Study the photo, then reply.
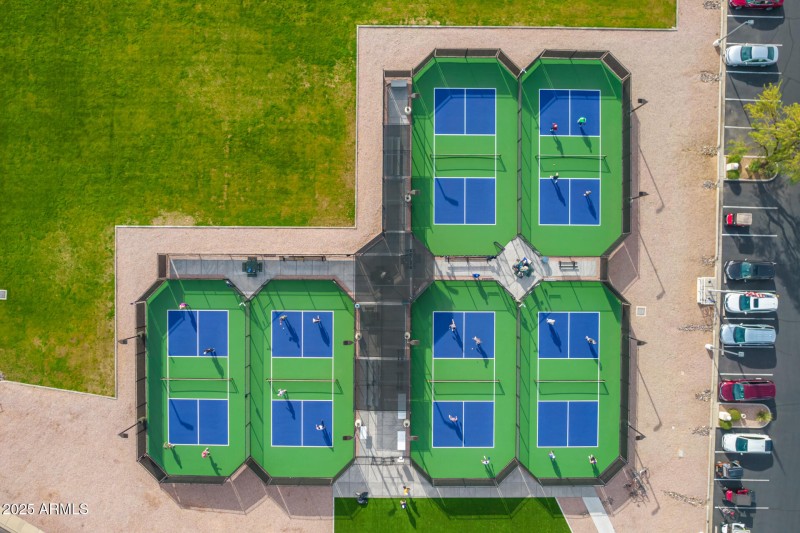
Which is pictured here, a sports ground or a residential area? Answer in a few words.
sports ground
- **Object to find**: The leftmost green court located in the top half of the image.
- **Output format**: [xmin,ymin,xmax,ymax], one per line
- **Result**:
[412,56,518,256]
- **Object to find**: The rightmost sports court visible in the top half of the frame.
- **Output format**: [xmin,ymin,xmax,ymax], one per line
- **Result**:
[520,59,622,256]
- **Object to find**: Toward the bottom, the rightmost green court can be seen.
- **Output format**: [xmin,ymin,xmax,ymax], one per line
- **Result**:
[517,281,622,478]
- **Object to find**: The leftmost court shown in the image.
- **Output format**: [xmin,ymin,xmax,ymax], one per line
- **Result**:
[146,281,248,477]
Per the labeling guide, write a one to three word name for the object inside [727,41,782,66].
car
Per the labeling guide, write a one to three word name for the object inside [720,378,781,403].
car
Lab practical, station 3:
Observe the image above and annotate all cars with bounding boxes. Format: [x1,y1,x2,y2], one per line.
[720,378,781,403]
[723,432,776,456]
[726,259,782,283]
[730,0,786,9]
[723,322,781,347]
[727,41,782,66]
[726,291,781,315]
